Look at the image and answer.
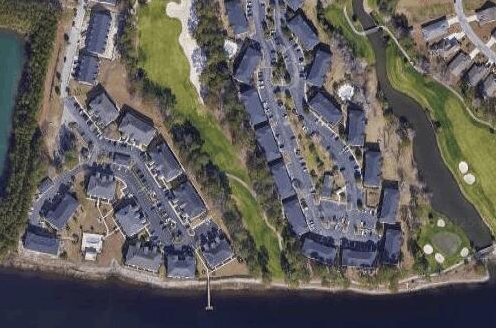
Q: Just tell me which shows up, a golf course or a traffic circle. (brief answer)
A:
golf course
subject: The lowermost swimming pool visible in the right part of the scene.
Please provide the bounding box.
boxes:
[338,85,354,101]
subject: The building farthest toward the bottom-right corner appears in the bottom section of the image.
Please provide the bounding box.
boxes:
[382,228,401,265]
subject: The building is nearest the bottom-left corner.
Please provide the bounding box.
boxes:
[24,231,60,256]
